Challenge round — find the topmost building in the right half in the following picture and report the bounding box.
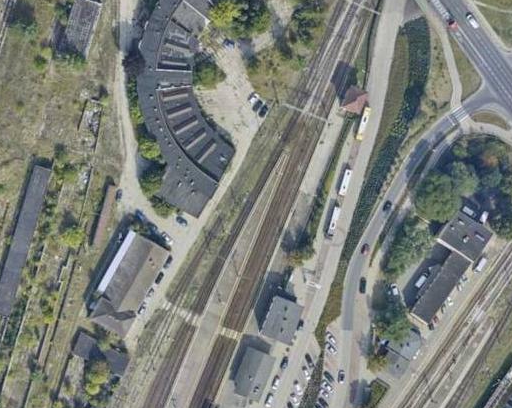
[341,85,367,114]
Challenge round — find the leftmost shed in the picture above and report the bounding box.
[0,166,54,318]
